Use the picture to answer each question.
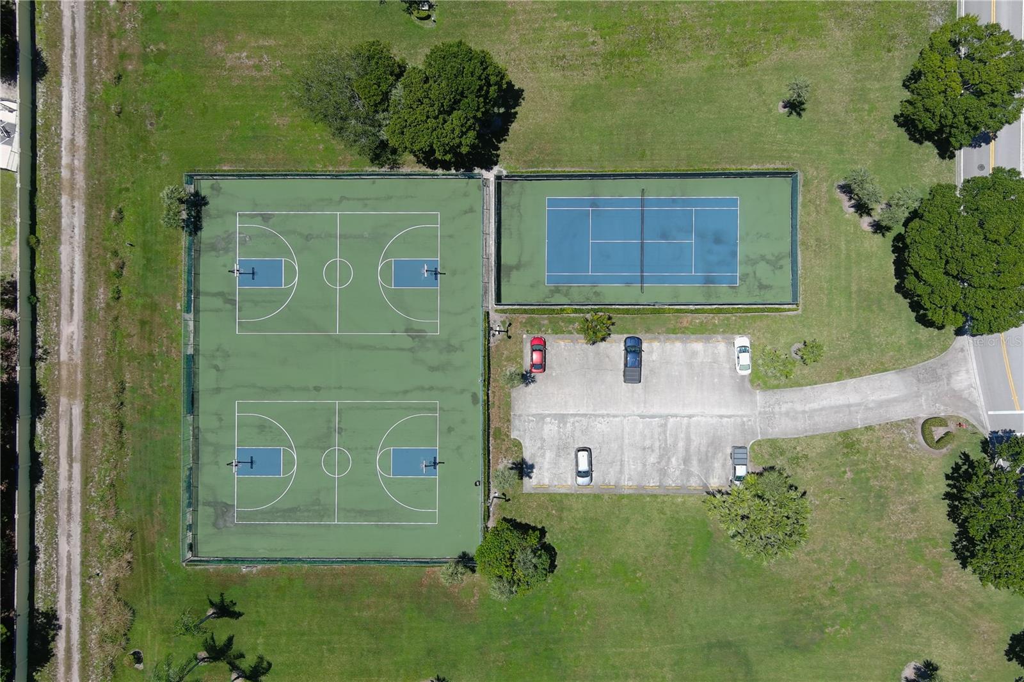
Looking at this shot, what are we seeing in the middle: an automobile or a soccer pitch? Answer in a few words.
automobile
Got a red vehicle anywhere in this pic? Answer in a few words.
Yes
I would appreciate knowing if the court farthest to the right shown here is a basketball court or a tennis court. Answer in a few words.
tennis court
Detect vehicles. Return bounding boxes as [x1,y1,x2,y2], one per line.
[575,448,593,486]
[624,337,644,384]
[731,447,749,490]
[734,336,753,376]
[529,336,547,374]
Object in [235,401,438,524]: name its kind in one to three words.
basketball court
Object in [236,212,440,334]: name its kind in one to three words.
basketball court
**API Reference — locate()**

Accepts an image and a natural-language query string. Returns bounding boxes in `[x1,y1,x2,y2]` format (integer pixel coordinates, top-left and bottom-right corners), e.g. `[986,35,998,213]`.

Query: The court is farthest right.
[496,179,792,302]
